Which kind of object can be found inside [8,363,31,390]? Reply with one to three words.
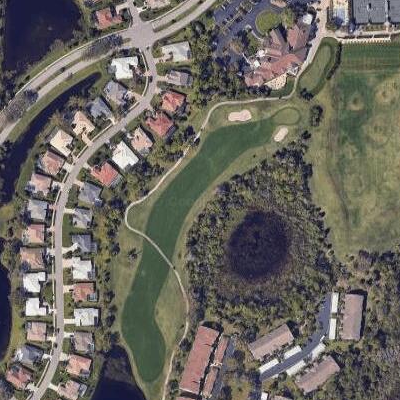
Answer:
house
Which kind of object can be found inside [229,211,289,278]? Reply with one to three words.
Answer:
pond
